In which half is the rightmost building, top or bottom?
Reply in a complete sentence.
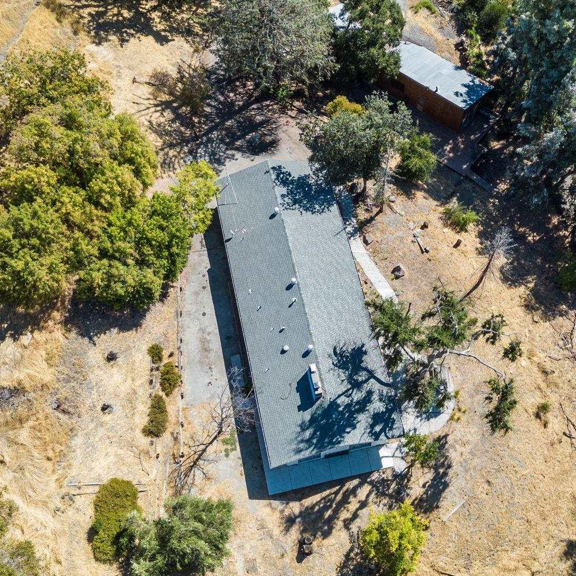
The rightmost building is in the top half of the image.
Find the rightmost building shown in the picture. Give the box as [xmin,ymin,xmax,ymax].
[394,37,494,131]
